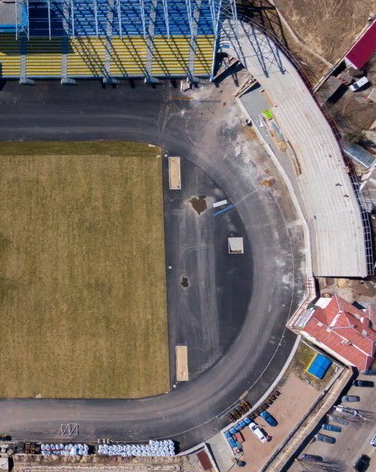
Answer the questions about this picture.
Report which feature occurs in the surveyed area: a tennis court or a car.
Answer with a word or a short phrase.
car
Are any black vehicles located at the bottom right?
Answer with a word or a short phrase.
Yes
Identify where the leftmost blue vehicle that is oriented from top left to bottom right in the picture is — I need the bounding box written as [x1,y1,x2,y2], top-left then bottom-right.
[261,411,279,428]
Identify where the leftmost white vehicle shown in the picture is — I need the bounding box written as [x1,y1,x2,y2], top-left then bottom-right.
[251,424,268,442]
